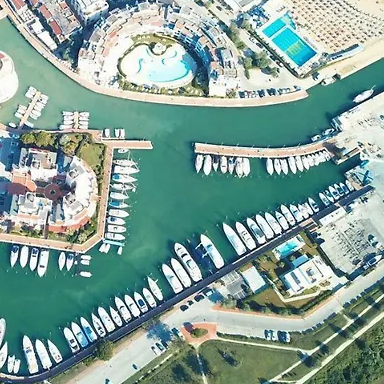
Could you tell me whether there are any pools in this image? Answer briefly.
Yes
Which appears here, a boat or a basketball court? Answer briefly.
boat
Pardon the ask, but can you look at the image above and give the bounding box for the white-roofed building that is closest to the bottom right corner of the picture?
[280,251,341,290]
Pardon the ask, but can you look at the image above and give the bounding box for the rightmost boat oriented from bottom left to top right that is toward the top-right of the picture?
[351,79,377,103]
